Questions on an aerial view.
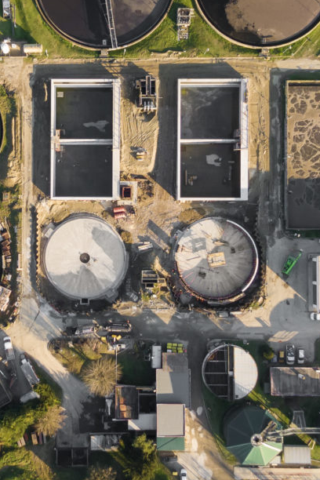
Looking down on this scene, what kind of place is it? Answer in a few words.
industrial area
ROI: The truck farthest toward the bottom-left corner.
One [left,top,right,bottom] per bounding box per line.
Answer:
[19,356,41,391]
